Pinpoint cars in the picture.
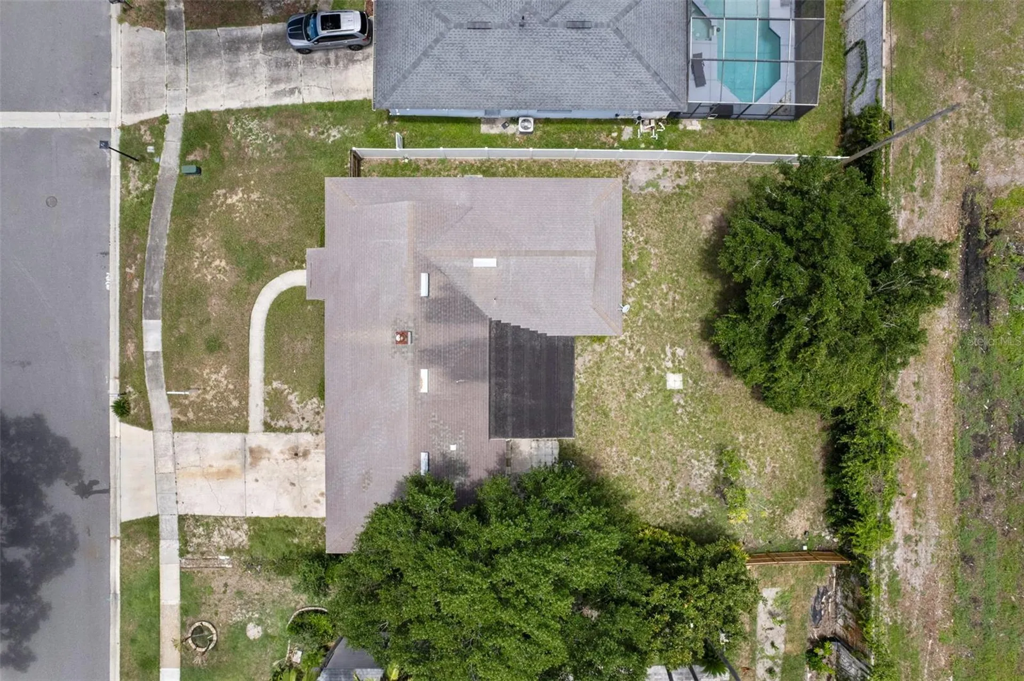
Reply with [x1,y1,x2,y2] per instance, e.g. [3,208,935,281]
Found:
[283,6,371,55]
